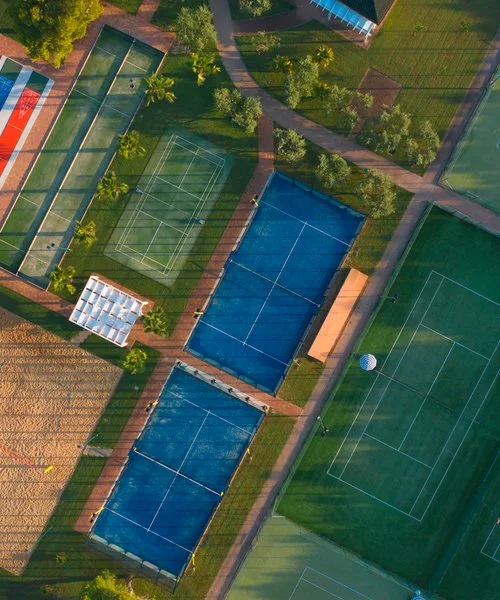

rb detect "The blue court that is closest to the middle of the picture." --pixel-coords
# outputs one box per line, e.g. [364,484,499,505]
[183,169,367,394]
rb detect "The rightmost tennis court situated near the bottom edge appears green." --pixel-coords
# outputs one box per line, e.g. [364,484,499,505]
[424,428,500,600]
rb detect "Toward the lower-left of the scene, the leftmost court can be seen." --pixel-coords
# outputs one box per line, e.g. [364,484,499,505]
[0,309,123,577]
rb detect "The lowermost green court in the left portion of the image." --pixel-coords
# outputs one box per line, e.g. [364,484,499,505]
[108,124,236,285]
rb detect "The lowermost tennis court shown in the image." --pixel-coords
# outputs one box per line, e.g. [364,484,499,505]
[236,517,447,600]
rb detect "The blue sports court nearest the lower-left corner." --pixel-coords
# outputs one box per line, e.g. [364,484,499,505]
[87,359,270,584]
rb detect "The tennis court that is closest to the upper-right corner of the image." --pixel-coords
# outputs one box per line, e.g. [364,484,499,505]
[438,65,500,214]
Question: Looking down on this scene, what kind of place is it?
sports ground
